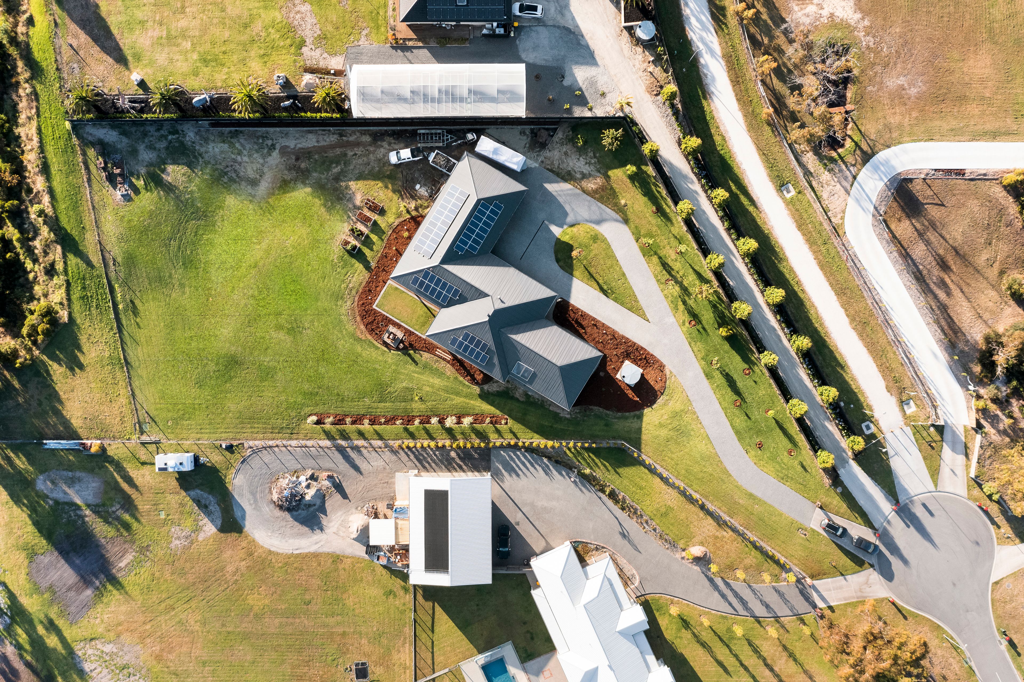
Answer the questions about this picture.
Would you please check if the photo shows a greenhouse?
Yes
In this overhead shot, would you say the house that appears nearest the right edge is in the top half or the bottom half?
bottom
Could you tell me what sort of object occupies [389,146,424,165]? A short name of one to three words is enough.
vehicle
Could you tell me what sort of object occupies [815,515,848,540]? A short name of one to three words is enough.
car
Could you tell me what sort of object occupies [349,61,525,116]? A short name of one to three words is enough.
greenhouse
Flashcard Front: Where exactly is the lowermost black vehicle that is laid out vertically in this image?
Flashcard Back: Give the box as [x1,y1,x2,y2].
[496,524,512,559]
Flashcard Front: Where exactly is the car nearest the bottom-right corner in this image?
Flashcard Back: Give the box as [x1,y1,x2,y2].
[848,533,880,556]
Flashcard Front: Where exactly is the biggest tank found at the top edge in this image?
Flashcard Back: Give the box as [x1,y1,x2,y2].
[631,20,656,47]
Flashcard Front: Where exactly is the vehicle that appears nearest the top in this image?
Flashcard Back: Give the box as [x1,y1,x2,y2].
[513,1,544,19]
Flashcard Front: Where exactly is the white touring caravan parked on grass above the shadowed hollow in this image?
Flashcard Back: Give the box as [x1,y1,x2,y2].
[156,452,210,470]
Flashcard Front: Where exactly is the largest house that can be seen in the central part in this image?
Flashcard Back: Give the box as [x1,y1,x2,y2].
[390,151,604,411]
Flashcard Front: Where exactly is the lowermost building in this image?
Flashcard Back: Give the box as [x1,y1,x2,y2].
[530,539,677,682]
